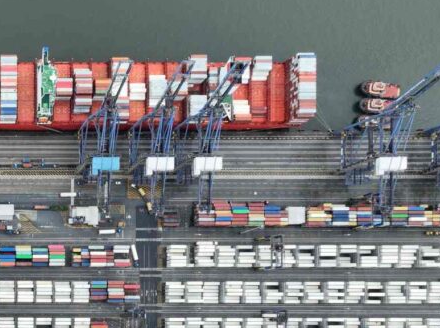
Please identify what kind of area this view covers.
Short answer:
port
